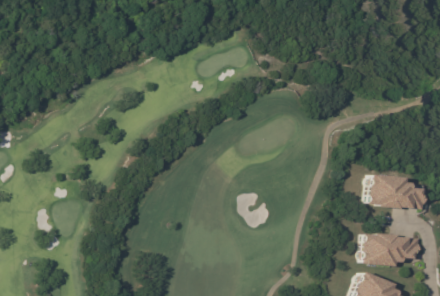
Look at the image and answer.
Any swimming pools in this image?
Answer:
No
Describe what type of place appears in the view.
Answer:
golf course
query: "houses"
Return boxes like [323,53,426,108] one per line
[345,270,402,296]
[353,234,422,268]
[362,176,428,210]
